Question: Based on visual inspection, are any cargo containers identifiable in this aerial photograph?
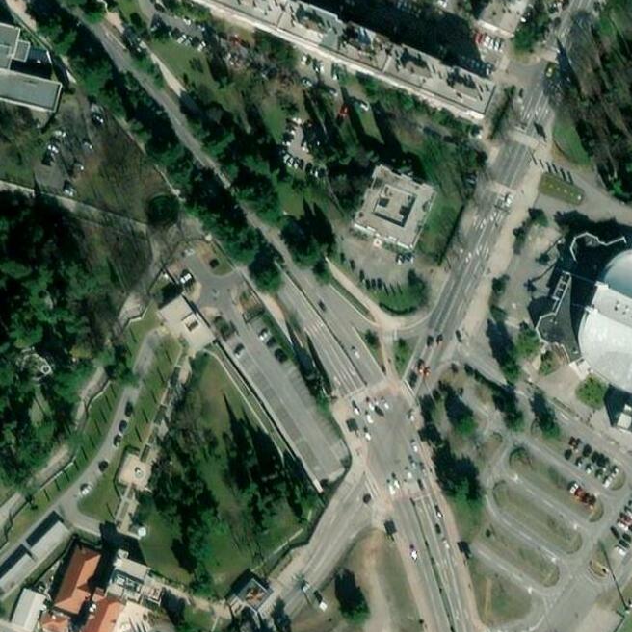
No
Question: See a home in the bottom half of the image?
Yes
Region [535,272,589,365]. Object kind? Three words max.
building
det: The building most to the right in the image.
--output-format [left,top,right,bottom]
[570,232,626,279]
